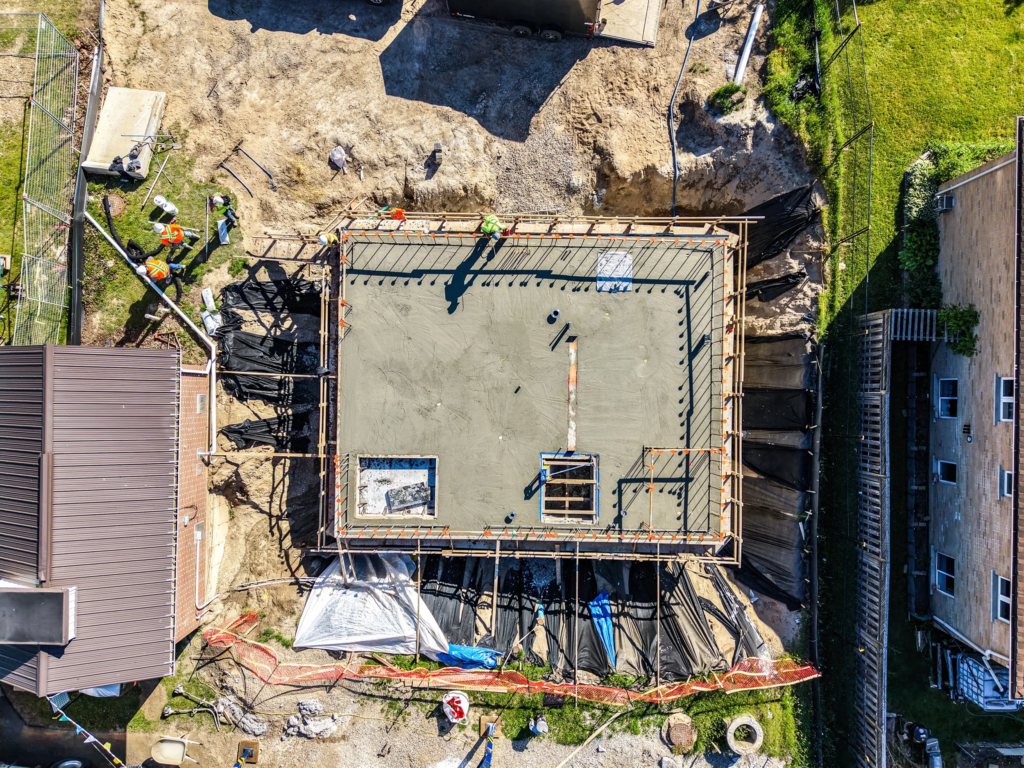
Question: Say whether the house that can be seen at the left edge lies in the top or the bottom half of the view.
bottom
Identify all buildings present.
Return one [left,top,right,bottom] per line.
[929,114,1024,702]
[0,346,236,706]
